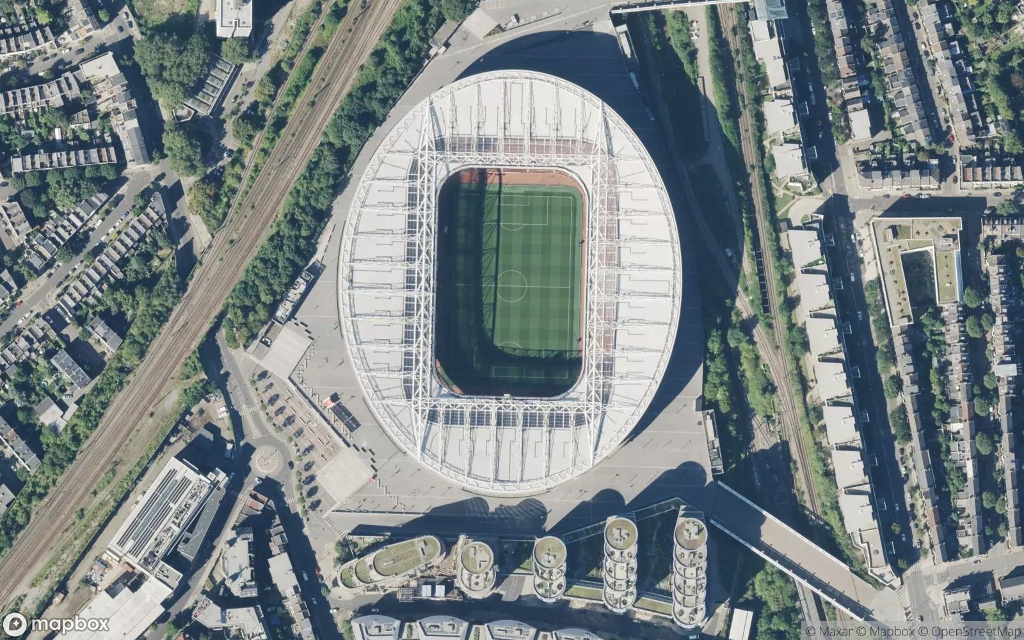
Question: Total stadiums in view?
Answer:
1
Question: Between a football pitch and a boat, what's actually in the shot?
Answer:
football pitch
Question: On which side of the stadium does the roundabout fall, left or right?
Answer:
to the left of it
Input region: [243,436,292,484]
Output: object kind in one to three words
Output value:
roundabout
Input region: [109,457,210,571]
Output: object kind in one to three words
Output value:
building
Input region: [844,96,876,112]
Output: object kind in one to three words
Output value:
house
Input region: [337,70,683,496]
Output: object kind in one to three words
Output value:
stadium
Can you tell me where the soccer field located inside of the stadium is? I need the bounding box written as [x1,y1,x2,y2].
[443,182,583,389]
